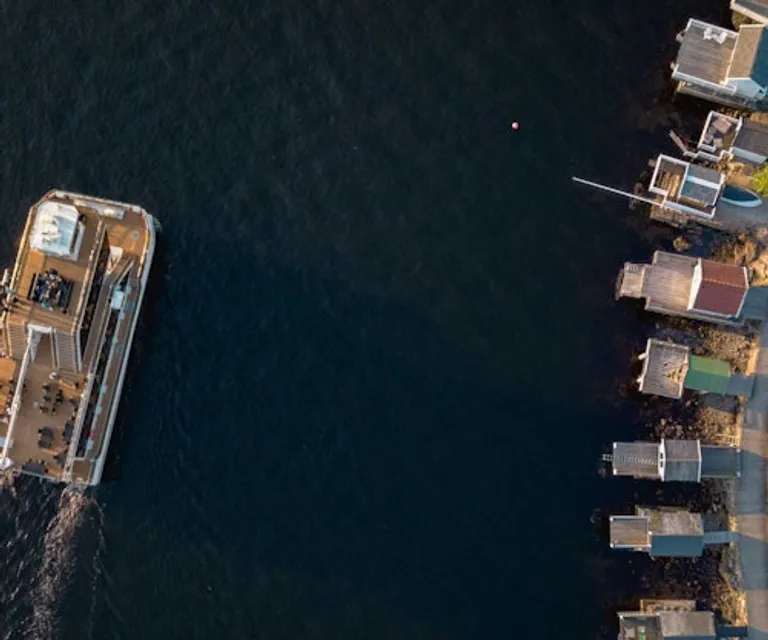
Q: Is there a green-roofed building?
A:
Yes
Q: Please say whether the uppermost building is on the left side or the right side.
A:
right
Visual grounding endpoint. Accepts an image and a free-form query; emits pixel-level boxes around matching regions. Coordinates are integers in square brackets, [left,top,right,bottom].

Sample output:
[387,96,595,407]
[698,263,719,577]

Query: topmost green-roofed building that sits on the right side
[680,355,729,394]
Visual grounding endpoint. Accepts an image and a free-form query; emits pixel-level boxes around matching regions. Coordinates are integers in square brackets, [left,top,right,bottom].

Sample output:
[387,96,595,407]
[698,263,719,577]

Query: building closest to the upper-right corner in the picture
[724,25,768,99]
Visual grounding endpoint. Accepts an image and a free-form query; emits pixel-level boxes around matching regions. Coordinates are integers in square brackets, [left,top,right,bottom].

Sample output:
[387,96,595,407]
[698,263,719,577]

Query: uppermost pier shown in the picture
[664,83,730,116]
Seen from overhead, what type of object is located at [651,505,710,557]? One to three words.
building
